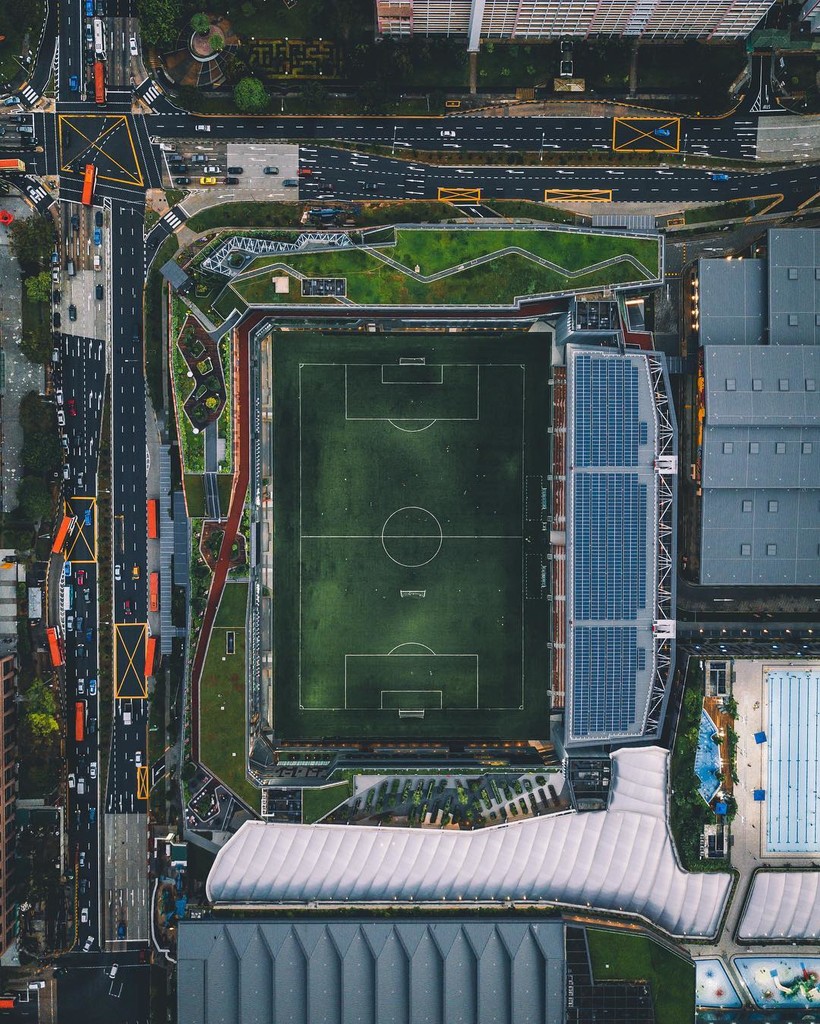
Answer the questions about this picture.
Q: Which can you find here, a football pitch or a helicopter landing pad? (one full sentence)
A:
I can see a football pitch in this picture.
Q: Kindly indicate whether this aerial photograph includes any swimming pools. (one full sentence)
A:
Yes, the picture does show a swimming pool.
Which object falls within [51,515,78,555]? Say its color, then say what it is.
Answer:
orange bus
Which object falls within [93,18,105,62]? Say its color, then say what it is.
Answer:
white vehicle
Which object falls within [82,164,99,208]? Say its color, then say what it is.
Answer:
red vehicle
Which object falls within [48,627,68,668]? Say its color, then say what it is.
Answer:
red bus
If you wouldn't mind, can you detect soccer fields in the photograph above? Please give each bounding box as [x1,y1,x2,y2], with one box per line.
[273,333,551,740]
